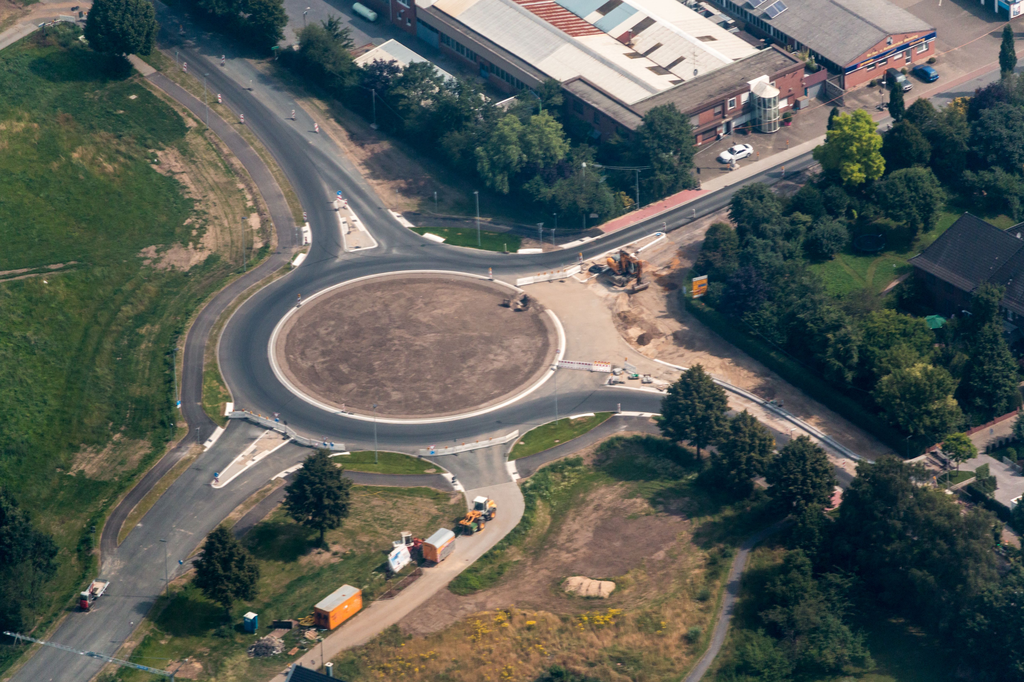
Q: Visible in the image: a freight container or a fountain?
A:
freight container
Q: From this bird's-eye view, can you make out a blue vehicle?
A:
Yes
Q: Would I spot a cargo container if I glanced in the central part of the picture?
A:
No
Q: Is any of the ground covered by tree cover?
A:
Yes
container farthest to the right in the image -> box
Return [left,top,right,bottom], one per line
[313,579,366,630]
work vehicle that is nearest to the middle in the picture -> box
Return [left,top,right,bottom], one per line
[601,253,651,292]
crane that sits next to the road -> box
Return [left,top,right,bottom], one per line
[2,630,188,682]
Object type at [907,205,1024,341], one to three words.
house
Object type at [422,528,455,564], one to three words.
trailer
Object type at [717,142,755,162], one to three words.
car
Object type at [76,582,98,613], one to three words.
work vehicle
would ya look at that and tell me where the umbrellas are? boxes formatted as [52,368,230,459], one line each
[924,317,947,330]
